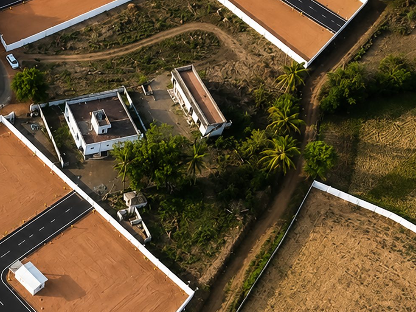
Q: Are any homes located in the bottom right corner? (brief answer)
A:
No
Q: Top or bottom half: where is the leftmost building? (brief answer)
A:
bottom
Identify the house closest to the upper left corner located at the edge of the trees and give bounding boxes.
[64,91,139,157]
